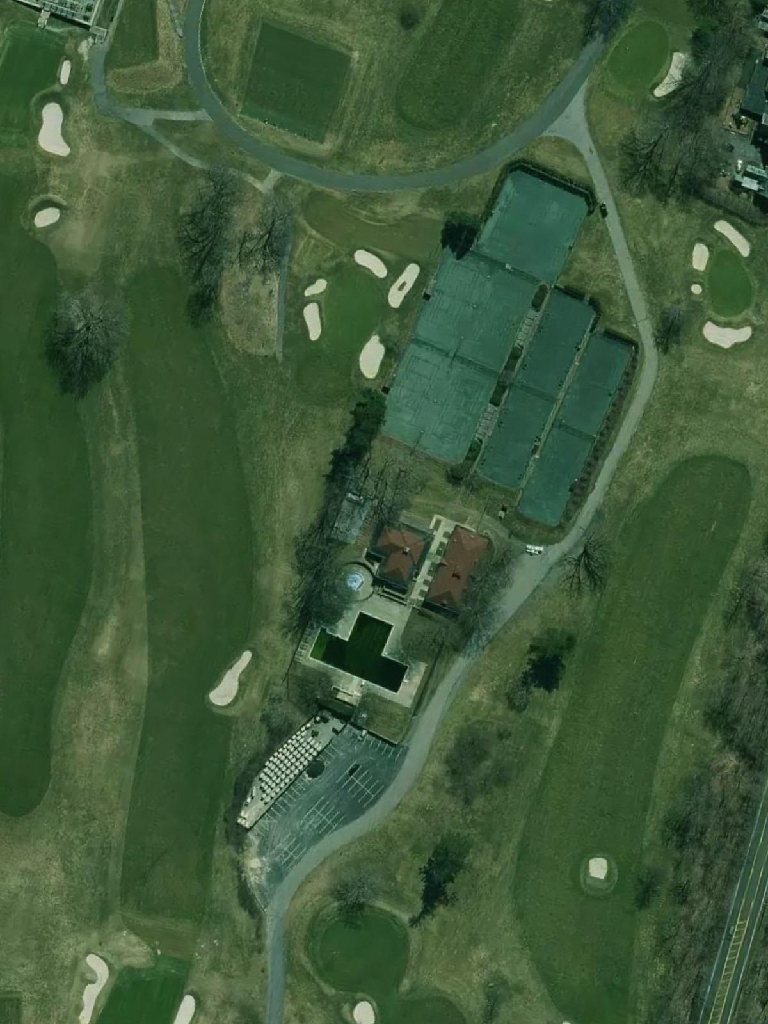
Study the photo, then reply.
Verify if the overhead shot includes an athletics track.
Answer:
No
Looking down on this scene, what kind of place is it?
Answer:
golf course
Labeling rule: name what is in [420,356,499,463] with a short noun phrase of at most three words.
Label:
tennis court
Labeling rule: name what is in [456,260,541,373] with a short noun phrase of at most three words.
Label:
tennis court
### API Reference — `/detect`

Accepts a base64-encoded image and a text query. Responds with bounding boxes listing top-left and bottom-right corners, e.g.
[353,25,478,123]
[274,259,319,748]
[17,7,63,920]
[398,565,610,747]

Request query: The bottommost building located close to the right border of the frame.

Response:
[735,163,768,200]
